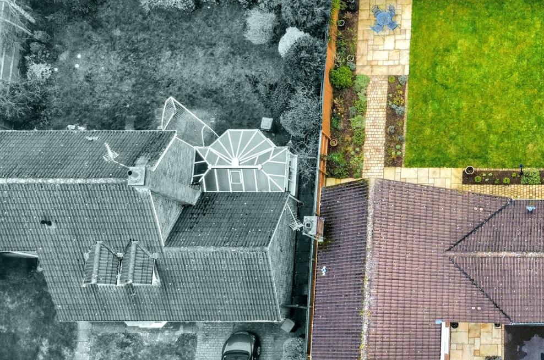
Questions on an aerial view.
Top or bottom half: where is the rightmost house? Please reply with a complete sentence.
The rightmost house sits in the bottom half of the picture.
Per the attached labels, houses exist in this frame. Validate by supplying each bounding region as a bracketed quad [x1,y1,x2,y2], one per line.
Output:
[0,127,302,332]
[301,178,544,360]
